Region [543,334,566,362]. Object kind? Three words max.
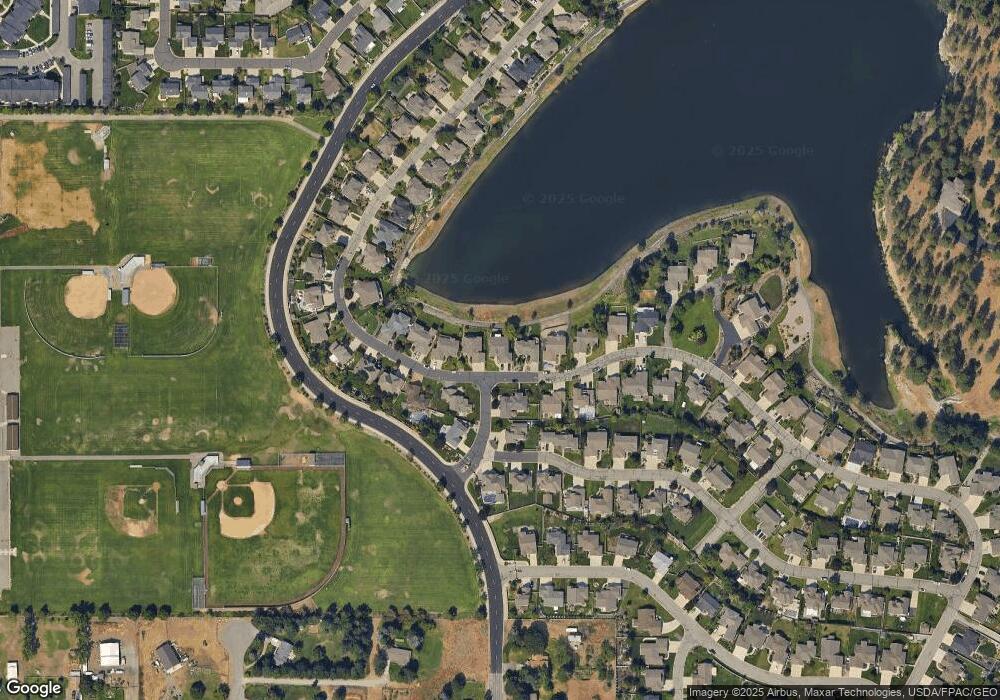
house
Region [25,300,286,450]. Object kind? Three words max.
sports field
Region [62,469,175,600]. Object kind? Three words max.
baseball field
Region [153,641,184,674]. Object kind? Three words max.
barn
